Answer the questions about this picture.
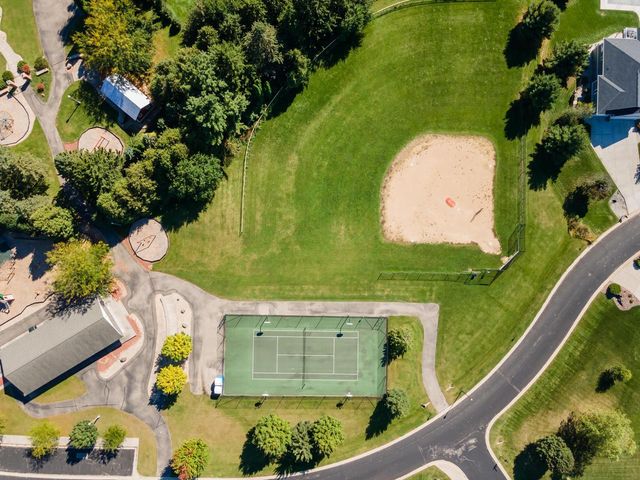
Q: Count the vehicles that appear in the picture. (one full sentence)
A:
There are no vehicles in the image.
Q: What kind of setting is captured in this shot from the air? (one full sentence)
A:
The picture captures a sports ground.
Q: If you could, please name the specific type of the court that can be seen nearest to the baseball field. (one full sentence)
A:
The court that can be seen nearest to the baseball field in the image is a tennis court.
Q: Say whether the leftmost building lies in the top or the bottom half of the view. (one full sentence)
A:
It is in the bottom half that the leftmost building appears.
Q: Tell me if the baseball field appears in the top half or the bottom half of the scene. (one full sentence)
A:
The top half of the photo is where the baseball field is.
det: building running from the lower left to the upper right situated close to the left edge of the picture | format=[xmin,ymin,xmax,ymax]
[0,296,124,396]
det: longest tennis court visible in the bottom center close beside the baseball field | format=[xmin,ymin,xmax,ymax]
[224,316,386,397]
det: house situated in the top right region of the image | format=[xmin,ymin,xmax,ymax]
[591,38,640,114]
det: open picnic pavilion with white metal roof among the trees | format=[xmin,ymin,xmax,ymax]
[101,72,156,124]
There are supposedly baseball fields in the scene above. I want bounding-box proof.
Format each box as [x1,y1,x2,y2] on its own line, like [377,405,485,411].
[242,0,522,298]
